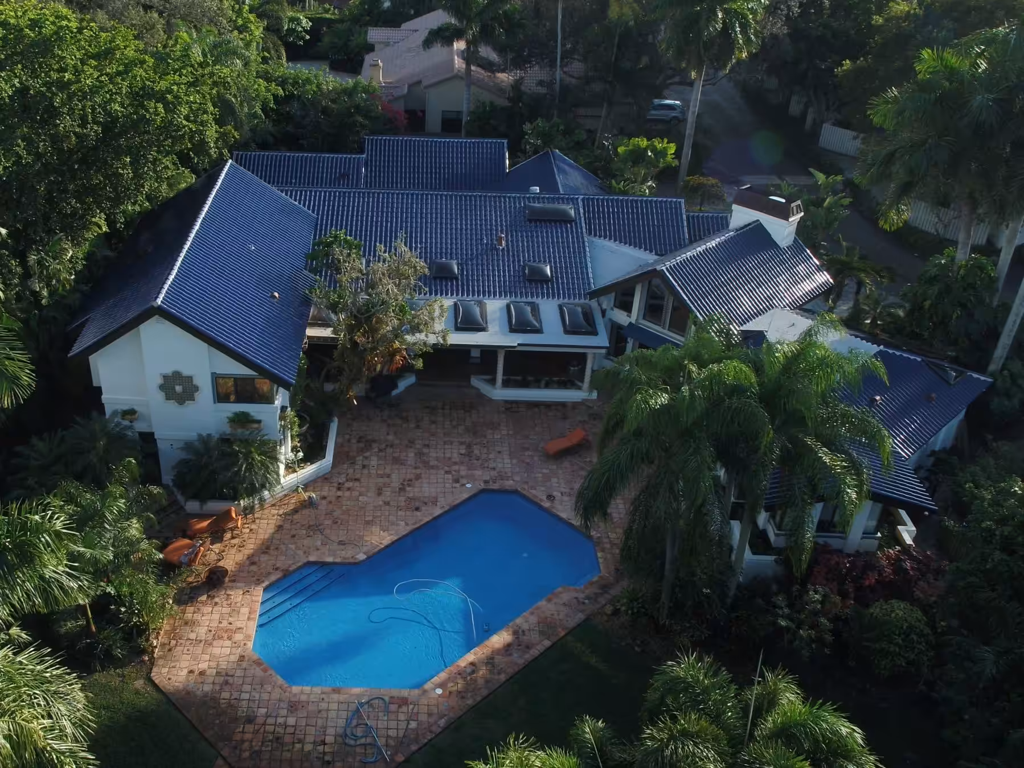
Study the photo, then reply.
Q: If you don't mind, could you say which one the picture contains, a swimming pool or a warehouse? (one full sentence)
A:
The one in the frame is a swimming pool.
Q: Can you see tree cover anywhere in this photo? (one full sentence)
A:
Yes, some tree cover is visible.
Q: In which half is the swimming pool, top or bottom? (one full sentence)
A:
The bottom half of the photo is where the swimming pool is.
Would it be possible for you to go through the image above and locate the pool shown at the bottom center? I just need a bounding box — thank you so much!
[254,495,599,692]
